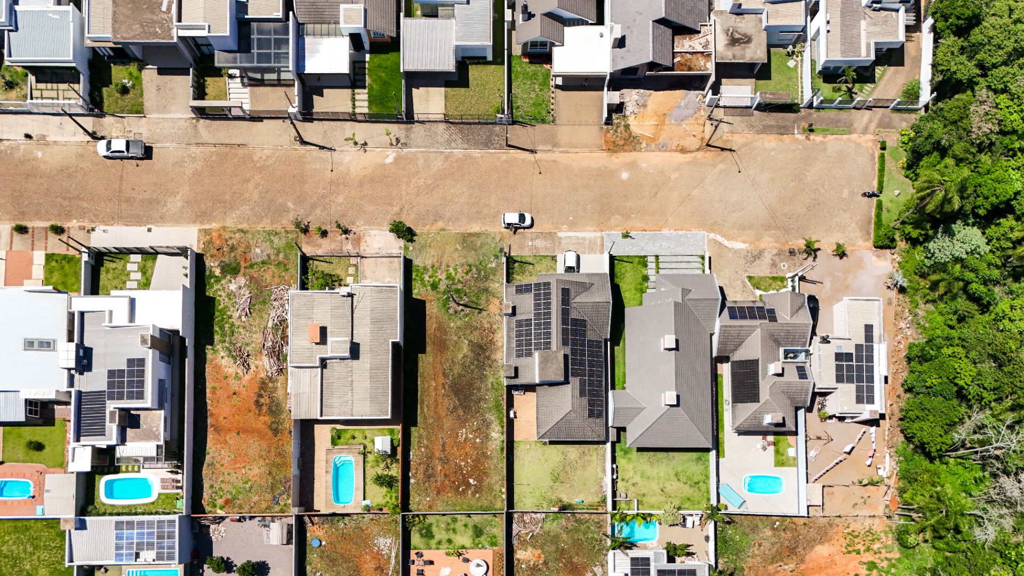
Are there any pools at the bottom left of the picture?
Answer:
Yes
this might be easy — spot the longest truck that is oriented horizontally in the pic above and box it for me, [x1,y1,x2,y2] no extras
[96,136,143,158]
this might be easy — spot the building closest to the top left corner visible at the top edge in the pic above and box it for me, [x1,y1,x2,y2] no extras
[0,0,91,78]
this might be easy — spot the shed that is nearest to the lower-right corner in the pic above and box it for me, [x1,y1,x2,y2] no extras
[806,484,822,506]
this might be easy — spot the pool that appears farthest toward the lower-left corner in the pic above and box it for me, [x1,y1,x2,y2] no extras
[0,478,34,500]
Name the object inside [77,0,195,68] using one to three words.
house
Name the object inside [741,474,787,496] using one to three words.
swimming pool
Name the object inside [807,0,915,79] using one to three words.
house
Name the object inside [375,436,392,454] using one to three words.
shed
